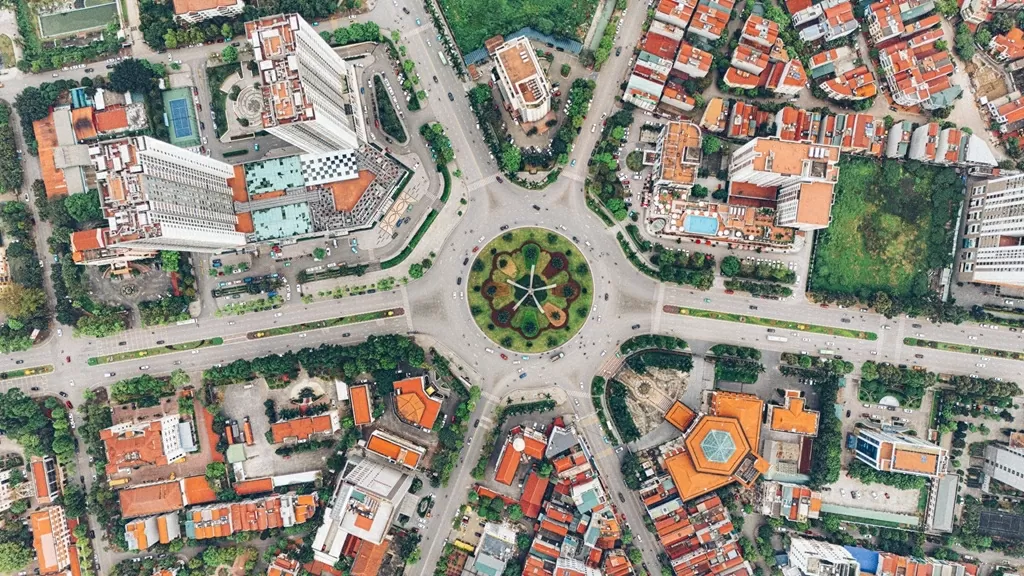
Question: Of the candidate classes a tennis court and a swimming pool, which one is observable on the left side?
tennis court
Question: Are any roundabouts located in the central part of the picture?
Yes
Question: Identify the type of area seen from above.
residential area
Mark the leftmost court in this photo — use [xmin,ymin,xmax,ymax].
[160,86,201,147]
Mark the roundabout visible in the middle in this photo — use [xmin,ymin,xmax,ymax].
[467,226,594,354]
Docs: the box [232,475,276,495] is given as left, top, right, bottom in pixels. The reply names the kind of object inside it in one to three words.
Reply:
shed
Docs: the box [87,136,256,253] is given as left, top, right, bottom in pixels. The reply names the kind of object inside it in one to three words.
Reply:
building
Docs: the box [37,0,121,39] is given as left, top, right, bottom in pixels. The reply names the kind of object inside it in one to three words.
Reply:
soccer field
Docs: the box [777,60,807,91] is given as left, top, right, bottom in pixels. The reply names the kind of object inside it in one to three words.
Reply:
house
